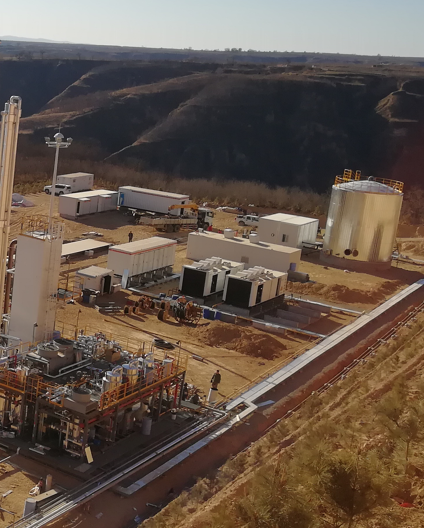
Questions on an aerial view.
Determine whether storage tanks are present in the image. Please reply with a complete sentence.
Yes, the picture does show a storage tank.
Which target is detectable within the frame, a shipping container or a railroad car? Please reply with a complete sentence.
There is a shipping container in the scene.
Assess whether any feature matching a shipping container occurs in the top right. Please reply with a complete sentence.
No, in the top right there is no shipping container.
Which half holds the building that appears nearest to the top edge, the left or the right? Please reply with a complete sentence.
The building that appears nearest to the top edge appears in the left half of the scene.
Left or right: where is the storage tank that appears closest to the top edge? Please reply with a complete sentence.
It is on the right.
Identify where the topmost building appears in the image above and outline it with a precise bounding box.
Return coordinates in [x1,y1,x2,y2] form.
[58,188,125,218]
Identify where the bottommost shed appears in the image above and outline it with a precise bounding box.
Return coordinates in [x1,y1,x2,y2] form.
[74,262,126,293]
